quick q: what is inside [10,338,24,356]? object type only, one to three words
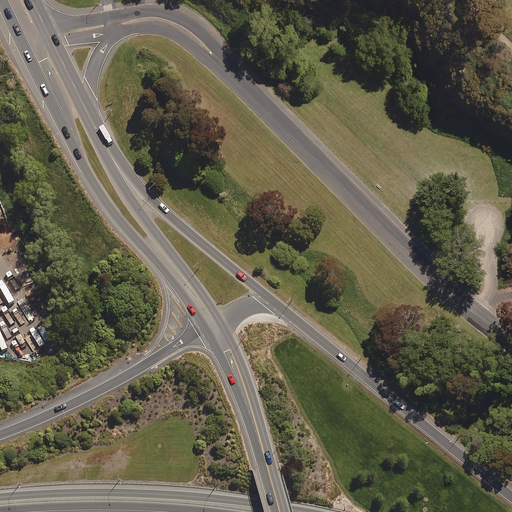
vehicle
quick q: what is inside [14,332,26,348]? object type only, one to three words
vehicle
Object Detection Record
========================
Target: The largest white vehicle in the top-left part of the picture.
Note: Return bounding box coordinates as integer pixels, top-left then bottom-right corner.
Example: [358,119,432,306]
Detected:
[98,124,114,148]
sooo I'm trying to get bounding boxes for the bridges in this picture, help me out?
[252,469,294,512]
